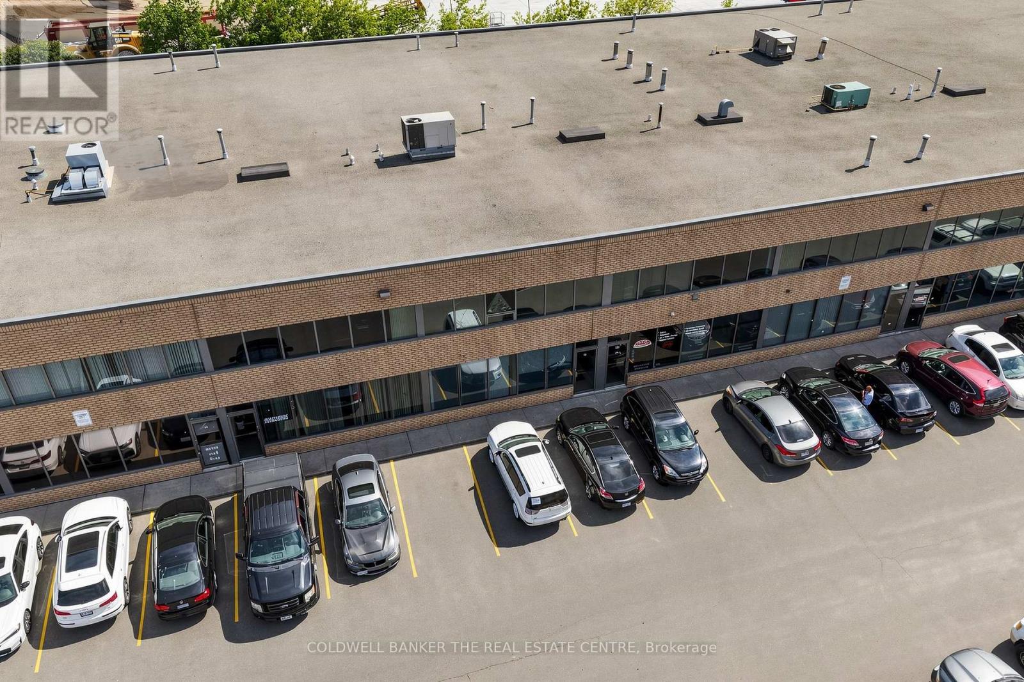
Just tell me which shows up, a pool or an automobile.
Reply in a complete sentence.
The one in the frame is an automobile.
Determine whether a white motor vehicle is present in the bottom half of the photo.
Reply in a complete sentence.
Yes, I can see a white motor vehicle in the bottom half of the photo.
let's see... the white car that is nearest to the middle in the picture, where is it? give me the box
[492,423,571,526]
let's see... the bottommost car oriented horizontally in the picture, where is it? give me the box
[930,645,1021,682]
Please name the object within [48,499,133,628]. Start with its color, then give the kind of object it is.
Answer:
white car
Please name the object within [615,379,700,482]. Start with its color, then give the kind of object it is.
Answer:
black car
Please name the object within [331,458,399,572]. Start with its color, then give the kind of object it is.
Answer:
gray car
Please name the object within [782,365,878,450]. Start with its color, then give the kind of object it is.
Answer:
black car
